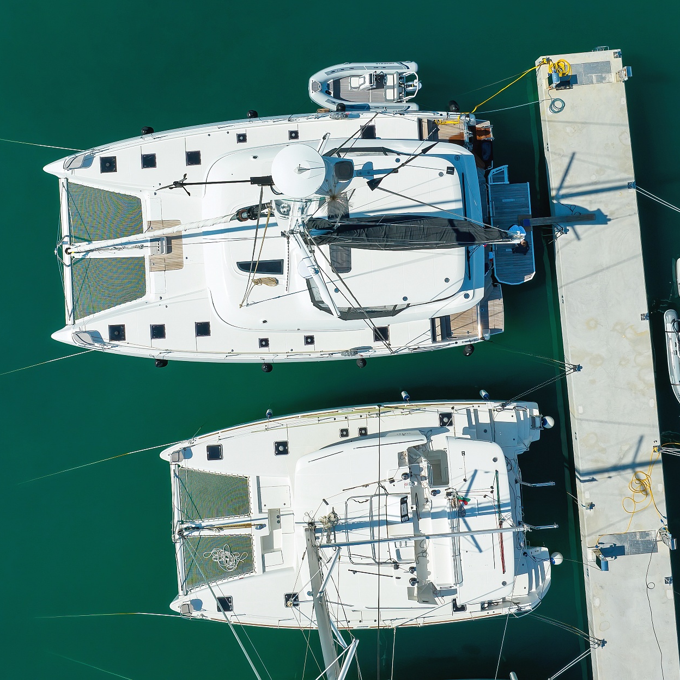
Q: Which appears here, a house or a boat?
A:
boat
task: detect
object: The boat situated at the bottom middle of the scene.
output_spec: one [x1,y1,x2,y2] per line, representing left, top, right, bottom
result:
[160,389,558,680]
